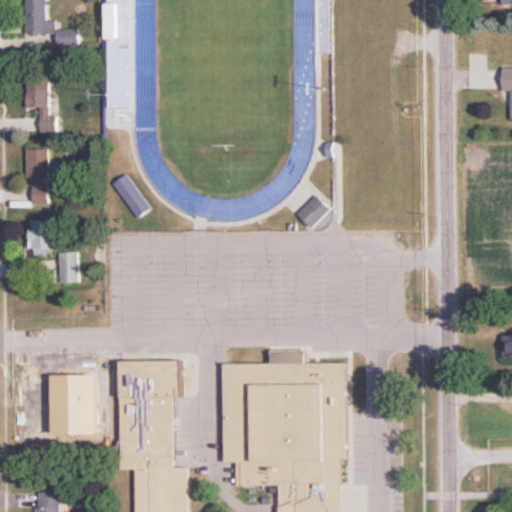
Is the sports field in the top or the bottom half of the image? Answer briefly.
top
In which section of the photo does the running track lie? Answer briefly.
top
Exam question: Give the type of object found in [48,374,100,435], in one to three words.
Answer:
shed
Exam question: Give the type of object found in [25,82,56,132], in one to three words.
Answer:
house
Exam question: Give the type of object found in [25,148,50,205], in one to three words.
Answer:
house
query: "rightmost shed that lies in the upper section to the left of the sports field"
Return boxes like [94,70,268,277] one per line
[113,174,152,218]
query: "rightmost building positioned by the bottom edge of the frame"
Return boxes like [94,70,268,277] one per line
[222,352,348,512]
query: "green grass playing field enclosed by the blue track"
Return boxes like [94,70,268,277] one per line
[156,0,294,199]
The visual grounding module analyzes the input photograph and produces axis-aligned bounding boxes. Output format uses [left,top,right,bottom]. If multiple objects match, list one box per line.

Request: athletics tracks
[136,0,314,220]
